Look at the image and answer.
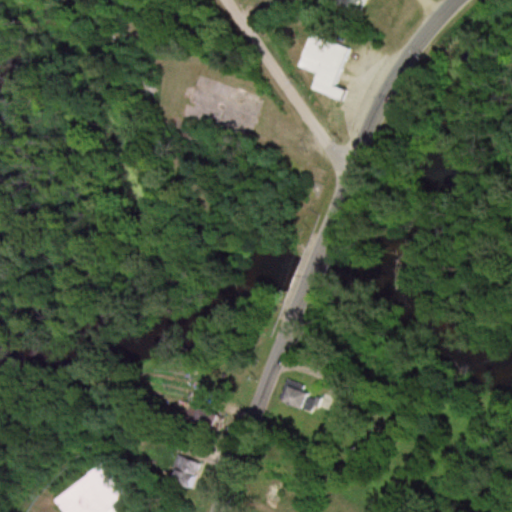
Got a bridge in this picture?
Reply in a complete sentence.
Yes, there's a bridge here.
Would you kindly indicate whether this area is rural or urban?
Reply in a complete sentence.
The land in this view is best described as rural.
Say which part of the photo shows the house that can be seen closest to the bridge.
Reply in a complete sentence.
Look in the bottom portion of the view to spot the house that can be seen closest to the bridge.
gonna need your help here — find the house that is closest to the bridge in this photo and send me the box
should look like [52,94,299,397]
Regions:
[280,380,320,416]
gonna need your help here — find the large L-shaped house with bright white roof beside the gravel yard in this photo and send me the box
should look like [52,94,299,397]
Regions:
[300,36,350,100]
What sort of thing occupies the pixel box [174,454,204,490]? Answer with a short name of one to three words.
house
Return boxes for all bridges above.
[278,234,329,328]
